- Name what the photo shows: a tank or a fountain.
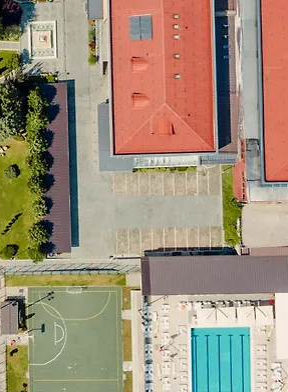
fountain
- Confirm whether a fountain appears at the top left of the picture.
Yes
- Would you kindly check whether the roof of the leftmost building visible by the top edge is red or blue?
red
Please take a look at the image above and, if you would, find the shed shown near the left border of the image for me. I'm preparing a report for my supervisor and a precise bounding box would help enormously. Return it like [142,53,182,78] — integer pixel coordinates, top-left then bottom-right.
[1,300,18,335]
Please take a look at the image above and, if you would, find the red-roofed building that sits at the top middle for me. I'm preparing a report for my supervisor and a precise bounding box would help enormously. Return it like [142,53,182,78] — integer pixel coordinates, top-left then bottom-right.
[103,0,218,156]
